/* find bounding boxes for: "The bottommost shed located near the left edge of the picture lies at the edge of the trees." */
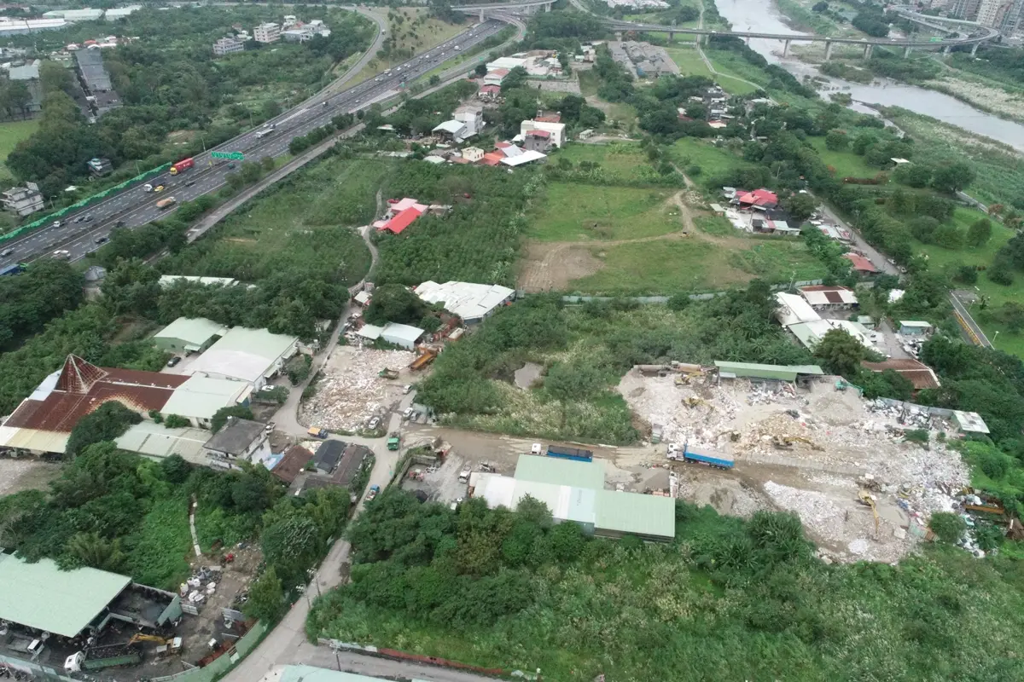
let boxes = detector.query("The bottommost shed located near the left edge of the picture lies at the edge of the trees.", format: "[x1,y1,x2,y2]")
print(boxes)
[0,550,139,650]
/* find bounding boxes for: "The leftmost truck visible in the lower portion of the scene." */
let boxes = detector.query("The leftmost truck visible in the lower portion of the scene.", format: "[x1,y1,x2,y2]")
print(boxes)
[12,626,45,661]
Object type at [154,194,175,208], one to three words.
vehicle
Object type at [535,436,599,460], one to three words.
truck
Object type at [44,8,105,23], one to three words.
building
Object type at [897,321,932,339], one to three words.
shed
